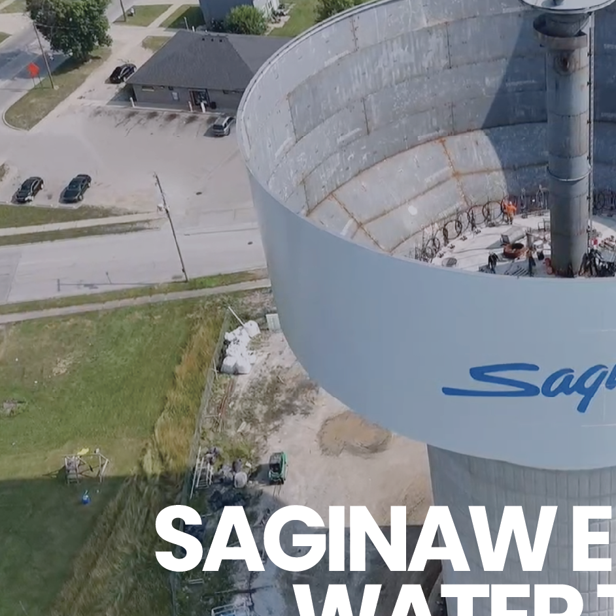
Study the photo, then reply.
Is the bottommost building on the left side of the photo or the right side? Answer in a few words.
left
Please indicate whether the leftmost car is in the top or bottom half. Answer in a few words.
top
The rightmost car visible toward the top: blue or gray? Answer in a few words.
gray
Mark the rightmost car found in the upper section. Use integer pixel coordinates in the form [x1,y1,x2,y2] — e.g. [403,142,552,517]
[208,115,237,136]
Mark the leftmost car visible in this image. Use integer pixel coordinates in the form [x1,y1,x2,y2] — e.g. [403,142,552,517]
[11,172,46,202]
